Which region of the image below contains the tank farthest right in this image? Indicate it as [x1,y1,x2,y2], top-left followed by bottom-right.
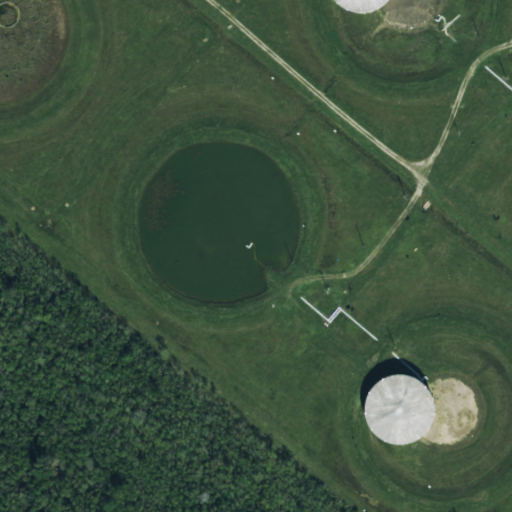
[364,374,437,446]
